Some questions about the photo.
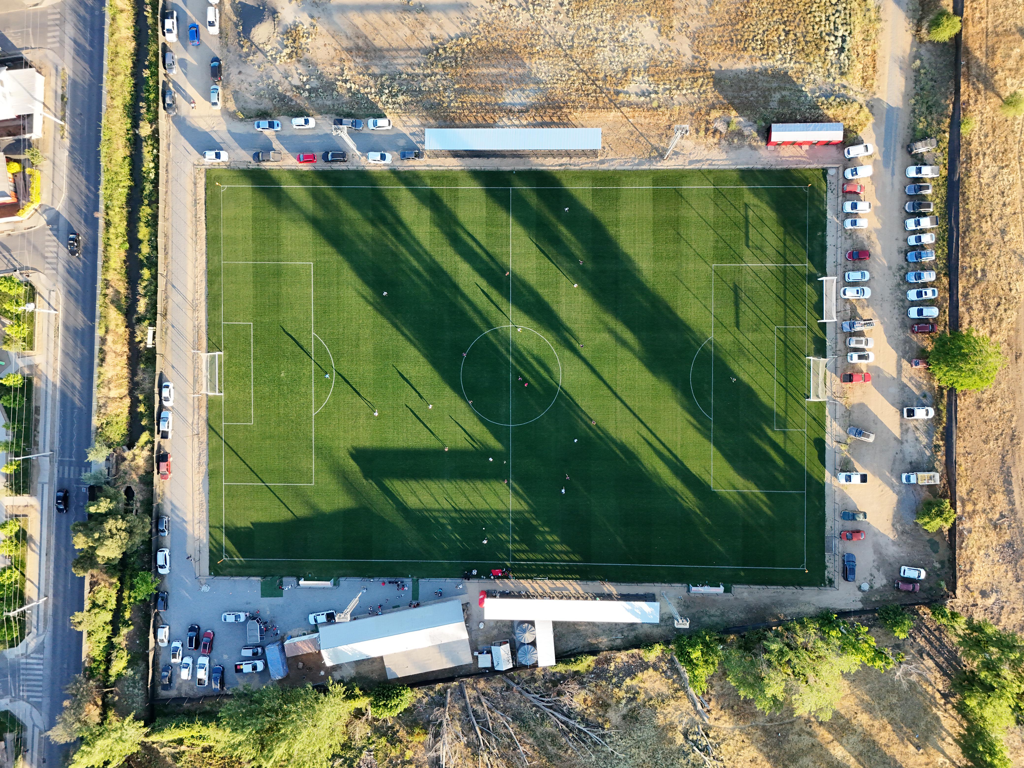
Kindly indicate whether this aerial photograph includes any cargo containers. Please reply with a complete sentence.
Yes, a cargo container can be made out from above.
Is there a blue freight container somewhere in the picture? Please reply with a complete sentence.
Yes, the image includes a blue freight container.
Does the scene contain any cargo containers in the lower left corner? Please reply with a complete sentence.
Yes, in the lower left corner there is a cargo container.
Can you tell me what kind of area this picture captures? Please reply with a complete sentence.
The area seen from above is a sports ground.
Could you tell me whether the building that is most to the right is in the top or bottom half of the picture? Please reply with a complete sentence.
The building that is most to the right is in the top half of the image.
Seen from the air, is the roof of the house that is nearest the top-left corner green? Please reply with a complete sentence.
No, the roof of the house that is nearest the top-left corner is white.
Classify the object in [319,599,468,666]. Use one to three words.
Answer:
building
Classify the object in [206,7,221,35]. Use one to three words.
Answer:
car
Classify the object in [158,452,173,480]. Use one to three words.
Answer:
vehicle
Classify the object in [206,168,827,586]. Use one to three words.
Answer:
soccer field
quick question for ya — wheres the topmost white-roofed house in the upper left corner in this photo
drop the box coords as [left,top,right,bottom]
[0,65,43,137]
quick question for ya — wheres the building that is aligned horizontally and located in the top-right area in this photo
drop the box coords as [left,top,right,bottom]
[768,123,843,146]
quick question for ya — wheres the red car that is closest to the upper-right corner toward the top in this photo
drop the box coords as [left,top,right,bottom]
[841,182,864,195]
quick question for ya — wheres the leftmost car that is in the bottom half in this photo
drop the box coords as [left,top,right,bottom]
[56,488,70,513]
